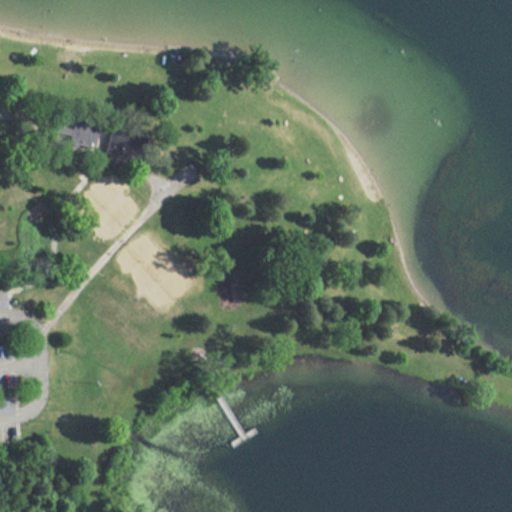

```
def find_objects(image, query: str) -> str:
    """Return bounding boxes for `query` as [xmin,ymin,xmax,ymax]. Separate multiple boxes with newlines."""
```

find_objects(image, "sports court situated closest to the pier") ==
[118,236,196,310]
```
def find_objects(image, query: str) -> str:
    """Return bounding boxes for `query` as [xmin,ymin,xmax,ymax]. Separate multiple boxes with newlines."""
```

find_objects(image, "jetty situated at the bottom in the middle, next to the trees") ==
[218,398,256,445]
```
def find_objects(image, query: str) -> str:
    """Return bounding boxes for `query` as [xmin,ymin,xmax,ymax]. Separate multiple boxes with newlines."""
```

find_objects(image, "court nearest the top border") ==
[84,182,138,240]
